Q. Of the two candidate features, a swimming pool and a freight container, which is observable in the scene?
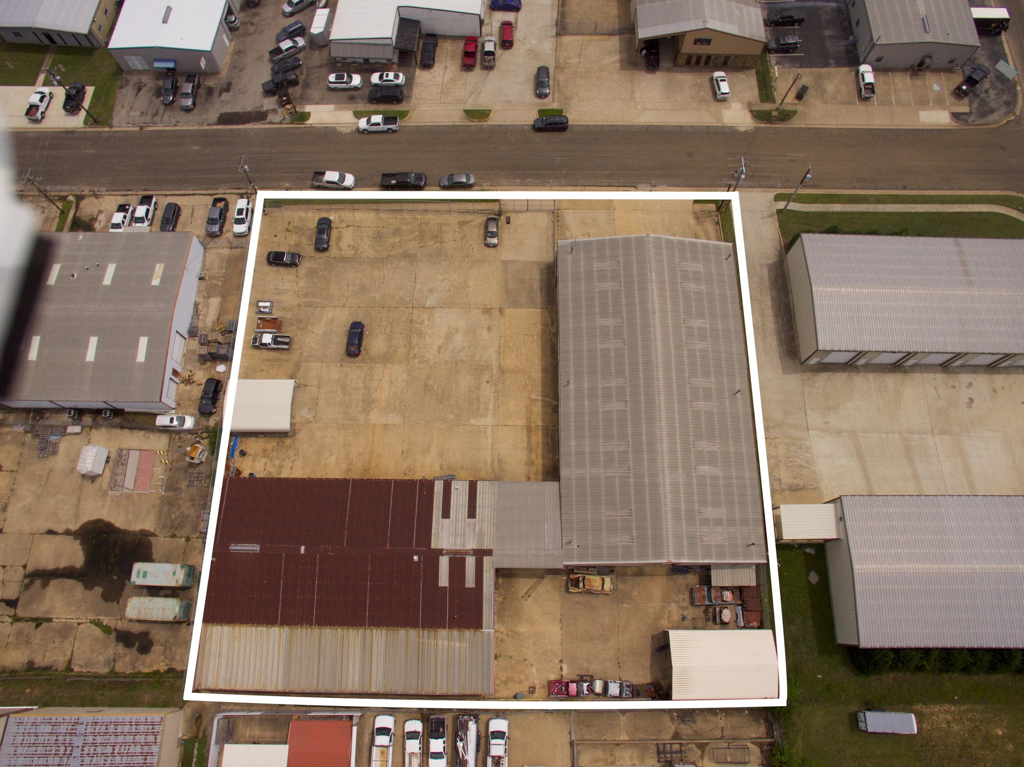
freight container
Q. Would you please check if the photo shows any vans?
Yes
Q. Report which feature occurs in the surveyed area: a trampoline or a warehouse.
warehouse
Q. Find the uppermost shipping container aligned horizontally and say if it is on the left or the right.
left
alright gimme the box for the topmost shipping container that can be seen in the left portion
[128,562,198,590]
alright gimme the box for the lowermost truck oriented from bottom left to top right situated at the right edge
[954,66,989,97]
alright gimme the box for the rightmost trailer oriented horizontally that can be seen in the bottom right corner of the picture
[854,706,918,736]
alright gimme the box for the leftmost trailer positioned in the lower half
[78,441,112,484]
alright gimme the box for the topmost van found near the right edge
[971,6,1016,36]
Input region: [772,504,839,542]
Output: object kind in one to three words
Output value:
shed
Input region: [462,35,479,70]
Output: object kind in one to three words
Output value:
vehicle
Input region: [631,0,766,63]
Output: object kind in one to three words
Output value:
building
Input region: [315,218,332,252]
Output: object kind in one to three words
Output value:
car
